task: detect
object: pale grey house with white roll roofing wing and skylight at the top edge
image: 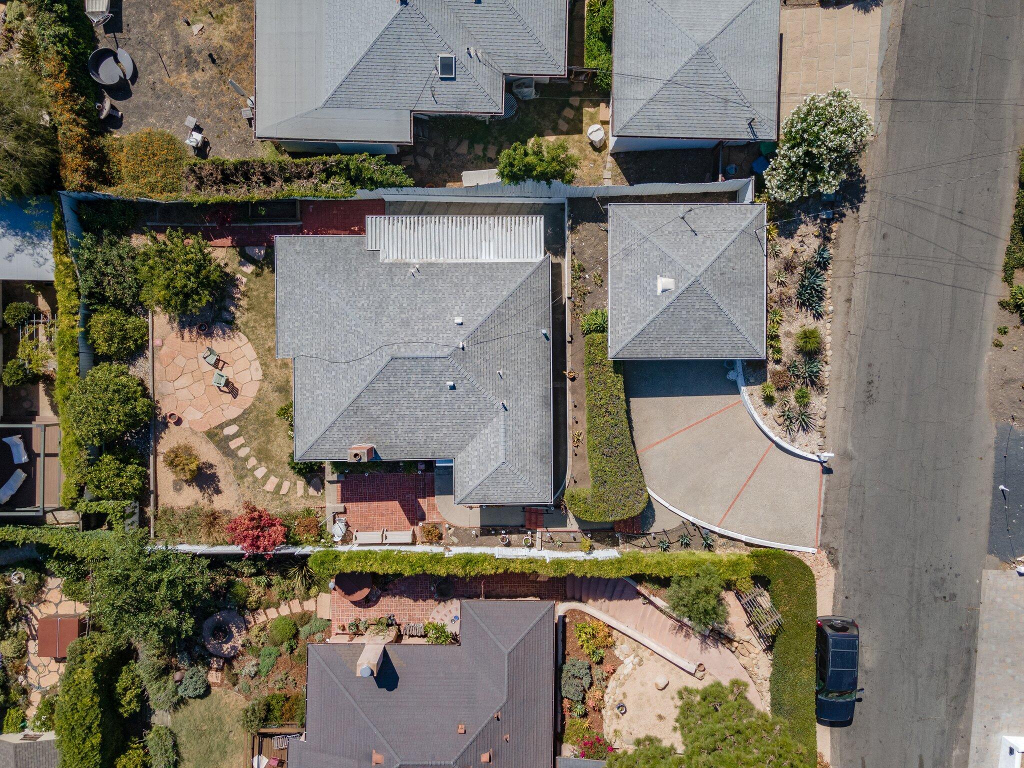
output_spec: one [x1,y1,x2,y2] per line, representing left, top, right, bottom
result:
[254,0,570,158]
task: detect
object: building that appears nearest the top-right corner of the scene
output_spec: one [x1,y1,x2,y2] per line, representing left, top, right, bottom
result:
[609,0,781,152]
